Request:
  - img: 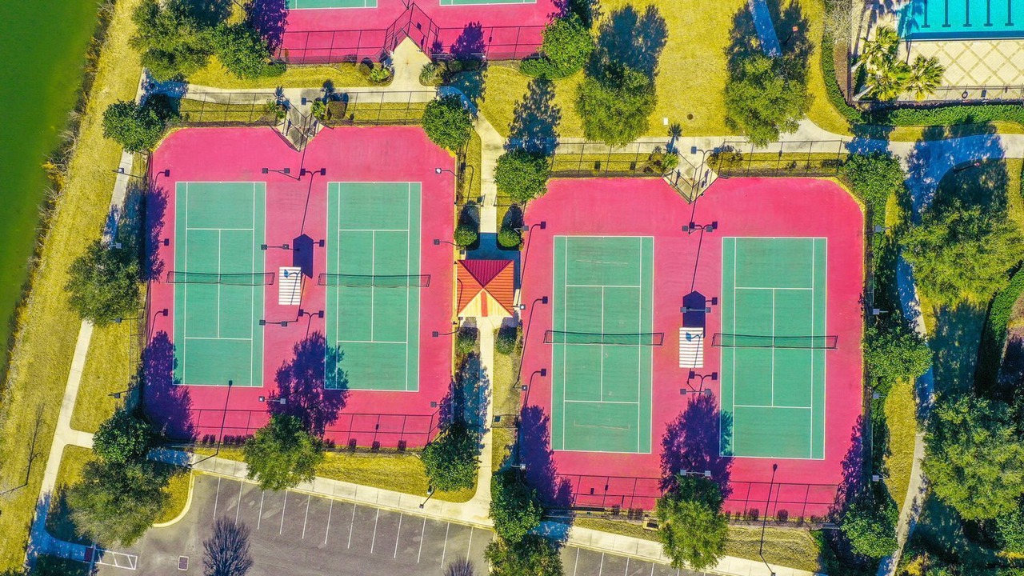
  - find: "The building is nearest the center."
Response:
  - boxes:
[456,259,515,318]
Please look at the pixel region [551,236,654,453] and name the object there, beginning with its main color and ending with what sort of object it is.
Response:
green tennis court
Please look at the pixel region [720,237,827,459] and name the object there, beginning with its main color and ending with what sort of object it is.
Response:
green tennis court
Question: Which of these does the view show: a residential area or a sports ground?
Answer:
sports ground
